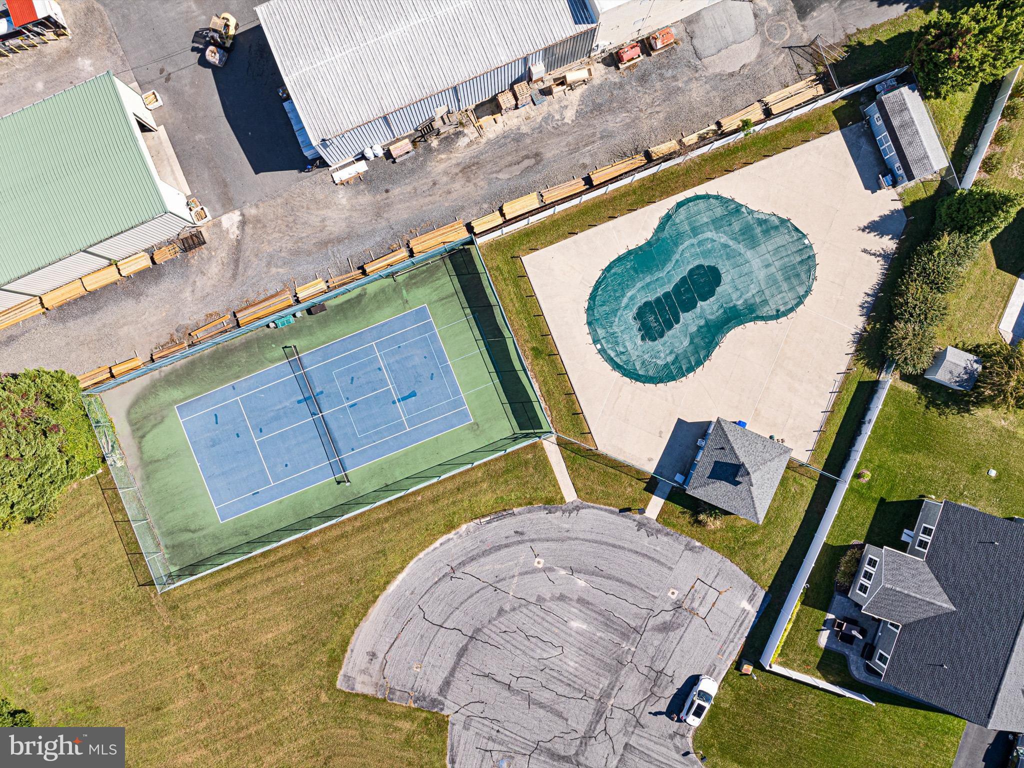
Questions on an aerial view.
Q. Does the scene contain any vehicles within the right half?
Yes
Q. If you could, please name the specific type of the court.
tennis court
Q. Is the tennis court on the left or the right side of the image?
left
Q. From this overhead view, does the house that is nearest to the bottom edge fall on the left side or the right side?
right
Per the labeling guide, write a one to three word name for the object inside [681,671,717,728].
car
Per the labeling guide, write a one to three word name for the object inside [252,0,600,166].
building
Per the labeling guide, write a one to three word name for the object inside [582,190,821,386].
swimming pool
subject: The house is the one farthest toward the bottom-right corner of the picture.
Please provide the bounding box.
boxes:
[849,499,1024,734]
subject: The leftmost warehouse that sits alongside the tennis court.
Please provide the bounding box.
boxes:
[0,67,195,309]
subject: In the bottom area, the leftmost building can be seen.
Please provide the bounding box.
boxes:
[684,417,794,525]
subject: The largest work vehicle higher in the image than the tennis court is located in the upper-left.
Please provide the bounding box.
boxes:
[211,13,241,60]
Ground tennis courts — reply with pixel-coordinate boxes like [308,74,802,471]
[98,243,551,585]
